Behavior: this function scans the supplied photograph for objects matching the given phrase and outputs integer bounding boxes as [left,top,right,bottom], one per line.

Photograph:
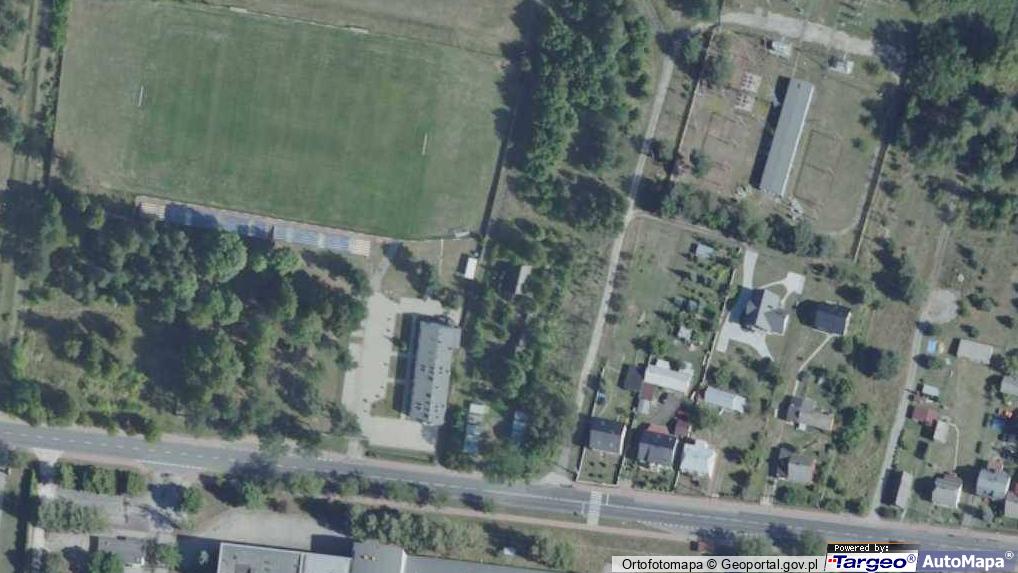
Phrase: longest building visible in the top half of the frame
[761,79,816,199]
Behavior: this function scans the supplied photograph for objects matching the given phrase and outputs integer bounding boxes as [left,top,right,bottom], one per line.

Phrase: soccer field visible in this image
[125,6,437,235]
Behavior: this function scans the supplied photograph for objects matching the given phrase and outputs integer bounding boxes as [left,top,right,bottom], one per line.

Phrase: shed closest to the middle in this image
[506,264,532,296]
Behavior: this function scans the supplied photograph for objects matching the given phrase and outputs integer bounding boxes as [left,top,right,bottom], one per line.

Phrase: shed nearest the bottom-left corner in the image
[27,526,48,550]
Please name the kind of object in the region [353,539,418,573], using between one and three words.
building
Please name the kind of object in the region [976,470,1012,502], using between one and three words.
house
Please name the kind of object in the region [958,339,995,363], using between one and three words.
shed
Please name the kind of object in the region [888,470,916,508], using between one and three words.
barn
